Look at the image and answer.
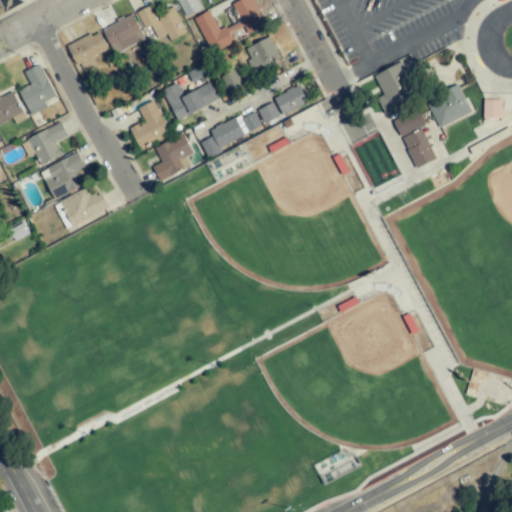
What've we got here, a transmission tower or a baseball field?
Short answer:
baseball field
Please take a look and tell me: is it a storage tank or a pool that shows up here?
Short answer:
pool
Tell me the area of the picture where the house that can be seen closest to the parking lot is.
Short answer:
top right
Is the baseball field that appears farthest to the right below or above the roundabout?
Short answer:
below it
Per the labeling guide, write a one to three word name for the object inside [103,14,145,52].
house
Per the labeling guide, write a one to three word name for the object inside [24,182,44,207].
swimming pool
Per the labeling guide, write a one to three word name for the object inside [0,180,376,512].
sports field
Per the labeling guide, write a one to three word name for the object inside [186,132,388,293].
baseball field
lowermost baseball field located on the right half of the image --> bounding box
[256,292,456,452]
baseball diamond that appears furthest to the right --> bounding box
[382,135,512,379]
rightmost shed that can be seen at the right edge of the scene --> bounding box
[484,99,504,119]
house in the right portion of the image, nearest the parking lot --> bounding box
[376,63,406,113]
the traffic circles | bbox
[478,2,512,78]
